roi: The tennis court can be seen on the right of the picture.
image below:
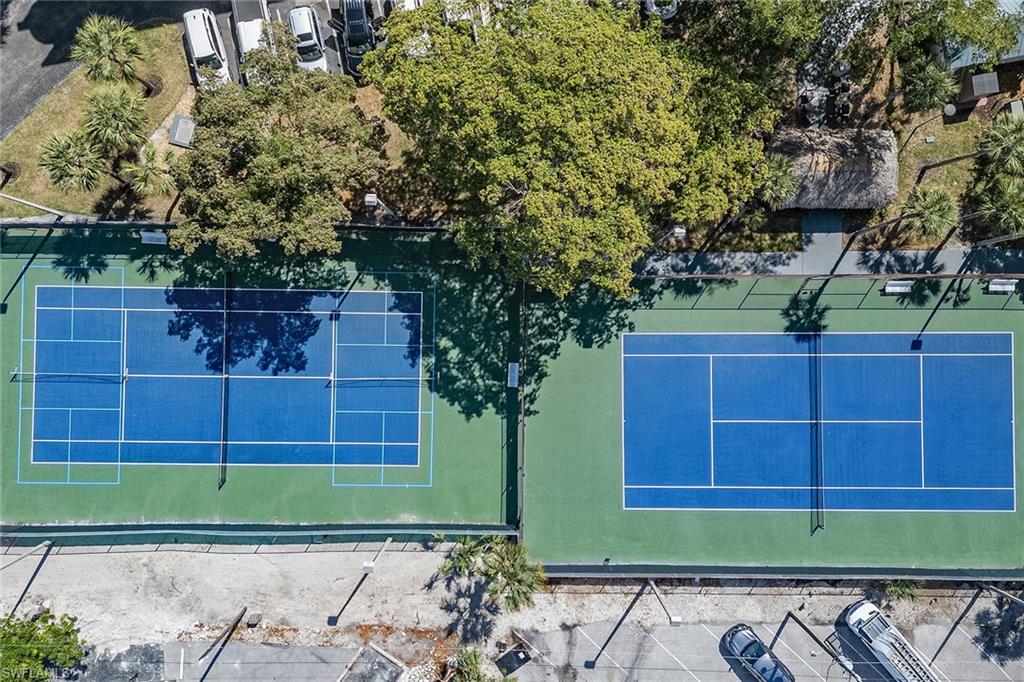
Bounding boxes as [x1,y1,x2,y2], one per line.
[524,279,1024,566]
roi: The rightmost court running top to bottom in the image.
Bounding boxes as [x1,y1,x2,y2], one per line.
[333,270,436,487]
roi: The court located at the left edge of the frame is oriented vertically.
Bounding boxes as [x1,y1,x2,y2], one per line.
[17,265,124,485]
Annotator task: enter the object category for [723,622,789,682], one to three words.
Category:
car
